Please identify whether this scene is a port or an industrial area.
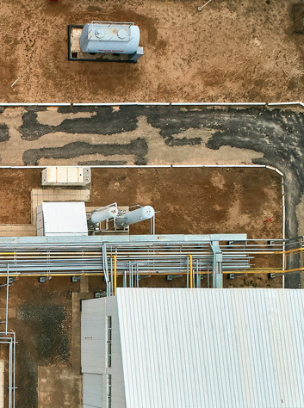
industrial area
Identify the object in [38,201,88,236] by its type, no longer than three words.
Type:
building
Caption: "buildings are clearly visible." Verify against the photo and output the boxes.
[82,286,304,408]
[38,201,88,236]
